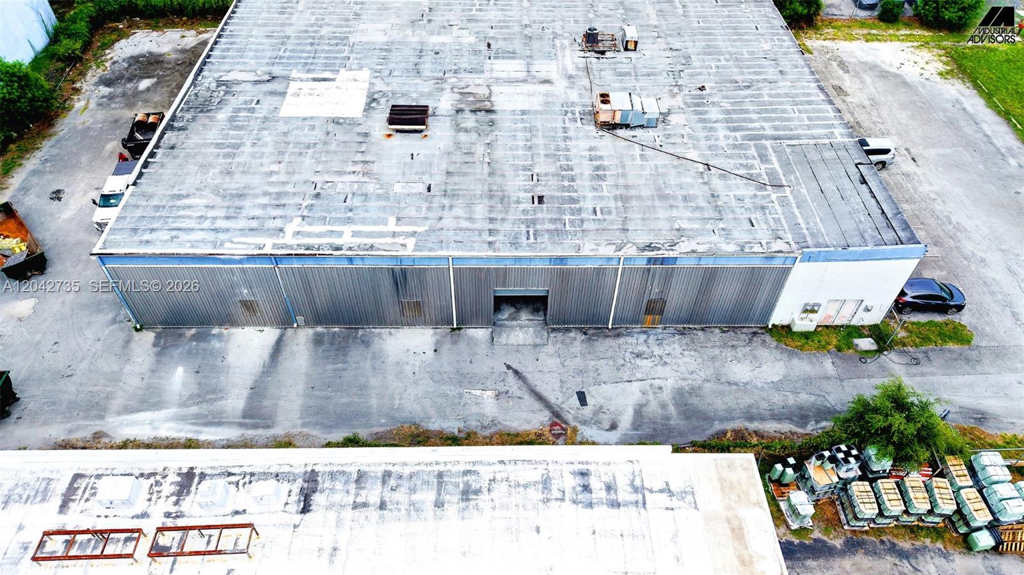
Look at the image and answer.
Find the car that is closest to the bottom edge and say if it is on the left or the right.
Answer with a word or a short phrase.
right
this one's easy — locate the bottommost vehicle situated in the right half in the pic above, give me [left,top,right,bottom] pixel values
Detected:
[894,279,968,315]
